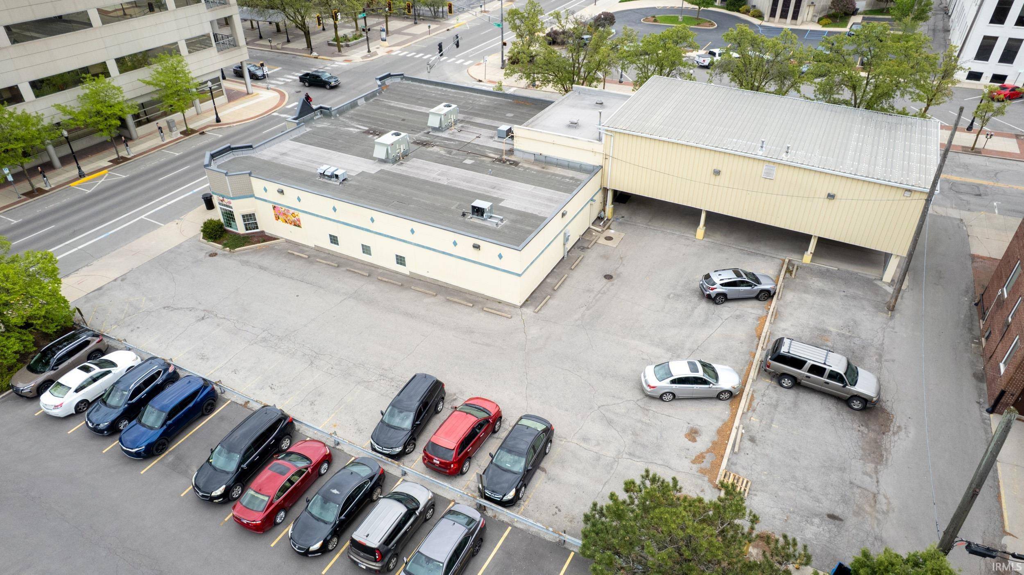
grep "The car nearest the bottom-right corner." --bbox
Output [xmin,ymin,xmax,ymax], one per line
[769,336,889,412]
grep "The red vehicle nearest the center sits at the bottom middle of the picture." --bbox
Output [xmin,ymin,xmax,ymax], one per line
[423,400,502,481]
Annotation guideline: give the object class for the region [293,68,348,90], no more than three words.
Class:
truck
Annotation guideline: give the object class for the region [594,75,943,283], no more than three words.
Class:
building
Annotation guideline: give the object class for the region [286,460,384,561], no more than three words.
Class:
car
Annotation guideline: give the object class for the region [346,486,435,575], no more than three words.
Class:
car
